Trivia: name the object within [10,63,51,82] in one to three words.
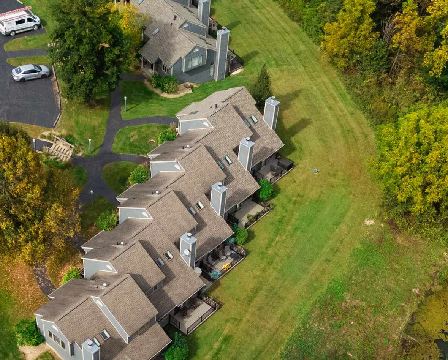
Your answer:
car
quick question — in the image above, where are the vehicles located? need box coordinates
[10,63,51,82]
[0,8,44,35]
